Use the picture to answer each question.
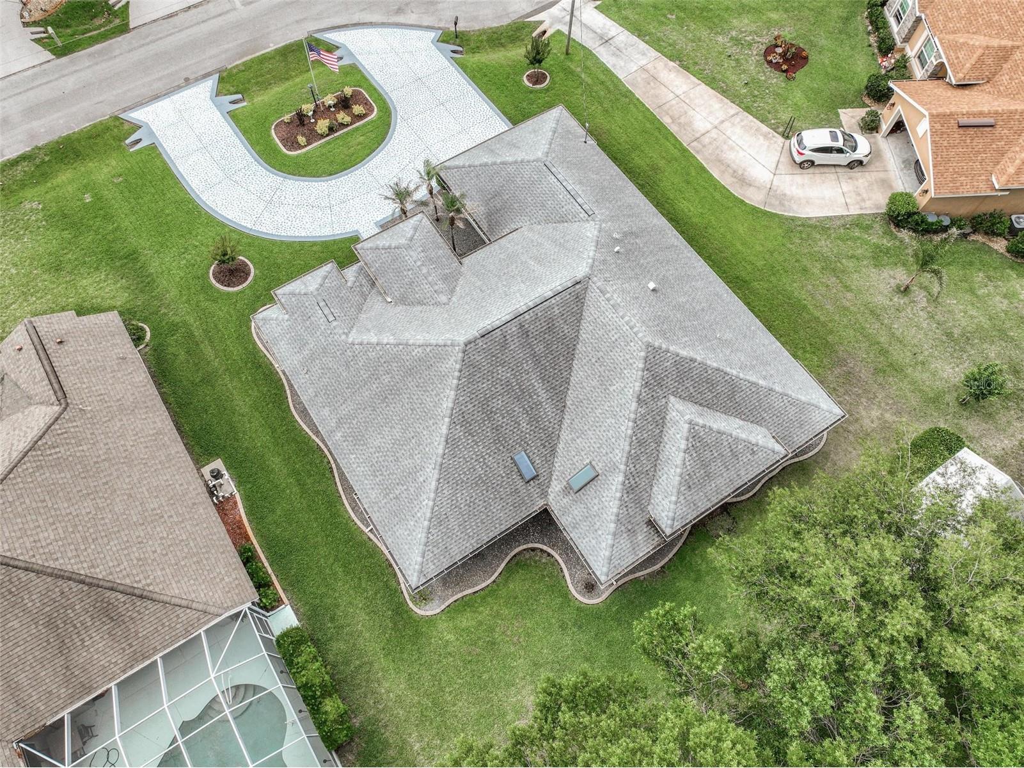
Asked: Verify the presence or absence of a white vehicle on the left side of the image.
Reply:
No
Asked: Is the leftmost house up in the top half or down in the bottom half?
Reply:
bottom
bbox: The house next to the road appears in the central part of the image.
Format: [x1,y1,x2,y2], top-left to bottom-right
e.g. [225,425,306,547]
[246,103,851,603]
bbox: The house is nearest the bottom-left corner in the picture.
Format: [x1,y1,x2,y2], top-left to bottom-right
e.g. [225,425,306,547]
[0,311,262,768]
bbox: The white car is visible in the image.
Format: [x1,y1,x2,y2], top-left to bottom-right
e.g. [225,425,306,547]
[787,127,874,170]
